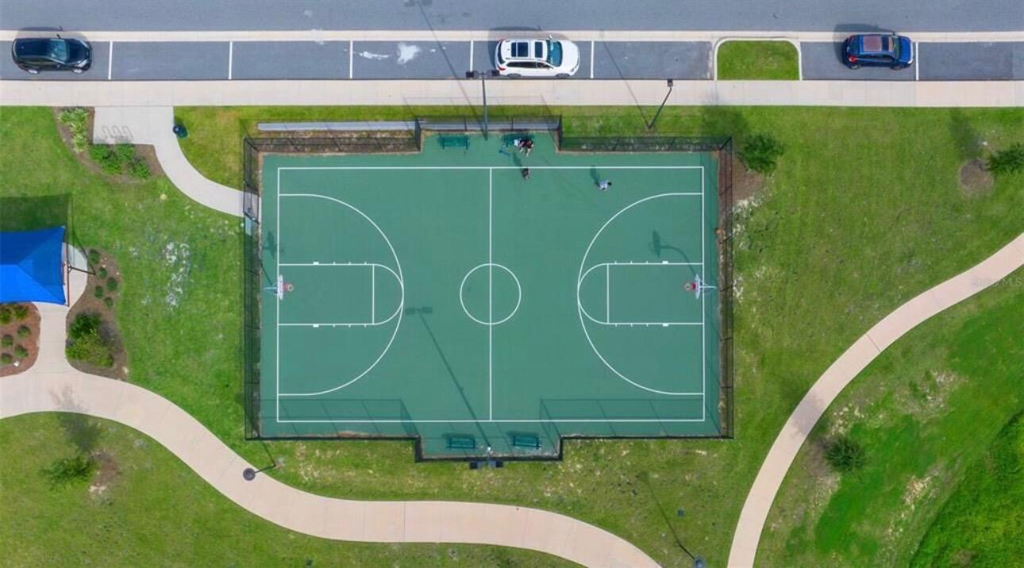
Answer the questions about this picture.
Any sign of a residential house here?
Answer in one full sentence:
No, I can't see a single residential house in this photo.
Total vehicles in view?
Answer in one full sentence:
There are 3 vehicles in the image.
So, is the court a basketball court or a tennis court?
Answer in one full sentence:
I'd say the court is a basketball court.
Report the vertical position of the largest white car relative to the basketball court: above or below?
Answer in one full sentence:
The largest white car is located above the basketball court in this view.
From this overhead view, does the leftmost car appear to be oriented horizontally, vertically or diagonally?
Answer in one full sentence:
From this overhead view, the leftmost car appears to run horizontally.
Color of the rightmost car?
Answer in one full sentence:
The rightmost car looks blue in the image.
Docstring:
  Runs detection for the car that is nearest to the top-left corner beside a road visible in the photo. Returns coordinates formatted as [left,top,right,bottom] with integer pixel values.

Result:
[10,34,91,73]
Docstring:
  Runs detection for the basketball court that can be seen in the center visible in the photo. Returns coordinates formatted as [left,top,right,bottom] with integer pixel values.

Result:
[259,131,720,457]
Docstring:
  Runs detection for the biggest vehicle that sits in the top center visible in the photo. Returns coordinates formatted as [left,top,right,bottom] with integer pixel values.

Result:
[494,35,581,77]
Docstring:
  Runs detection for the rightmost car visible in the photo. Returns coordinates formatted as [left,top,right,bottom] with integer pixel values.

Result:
[842,31,916,70]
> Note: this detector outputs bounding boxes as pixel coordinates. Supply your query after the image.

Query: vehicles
[842,31,916,70]
[494,35,581,77]
[10,34,91,73]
